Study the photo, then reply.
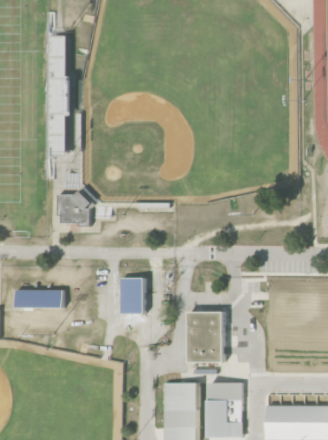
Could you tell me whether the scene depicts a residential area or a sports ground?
sports ground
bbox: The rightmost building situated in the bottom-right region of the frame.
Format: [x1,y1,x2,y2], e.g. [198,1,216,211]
[264,406,328,440]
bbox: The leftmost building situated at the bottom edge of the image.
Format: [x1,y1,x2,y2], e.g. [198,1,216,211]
[164,382,200,440]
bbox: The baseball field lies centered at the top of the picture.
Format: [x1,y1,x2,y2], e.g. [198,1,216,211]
[88,0,300,200]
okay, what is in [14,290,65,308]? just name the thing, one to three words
barn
